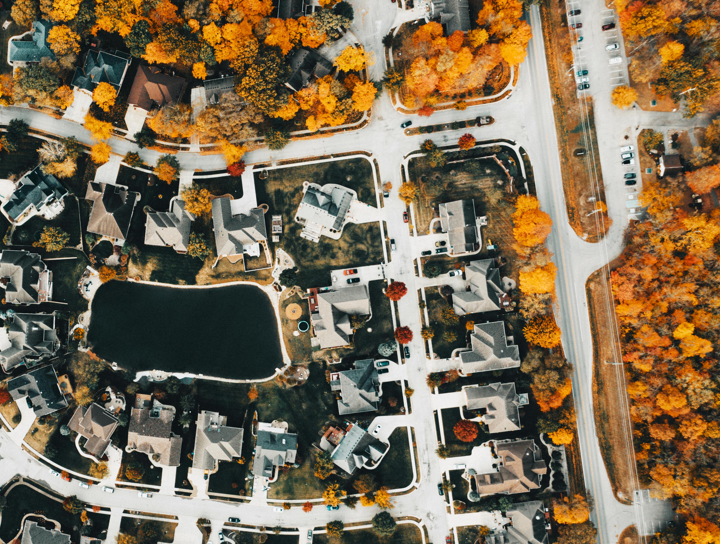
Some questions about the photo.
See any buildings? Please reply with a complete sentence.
Yes, there is a building in the image.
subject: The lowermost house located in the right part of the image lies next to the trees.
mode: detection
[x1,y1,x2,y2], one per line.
[484,498,552,544]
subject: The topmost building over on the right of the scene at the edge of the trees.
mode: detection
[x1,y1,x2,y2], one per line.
[428,0,471,36]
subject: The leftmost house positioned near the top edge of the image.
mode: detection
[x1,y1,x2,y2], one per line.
[10,20,58,64]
